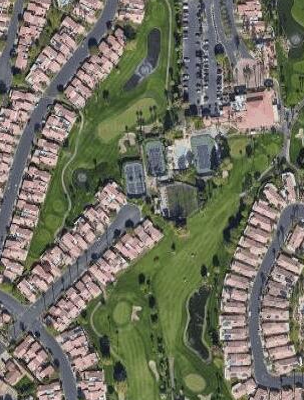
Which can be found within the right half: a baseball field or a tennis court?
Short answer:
tennis court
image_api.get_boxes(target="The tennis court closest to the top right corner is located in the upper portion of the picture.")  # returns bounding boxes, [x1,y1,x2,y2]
[191,135,213,173]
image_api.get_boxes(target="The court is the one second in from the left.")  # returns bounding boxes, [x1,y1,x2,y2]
[144,140,166,175]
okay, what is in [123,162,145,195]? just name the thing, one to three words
sports court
